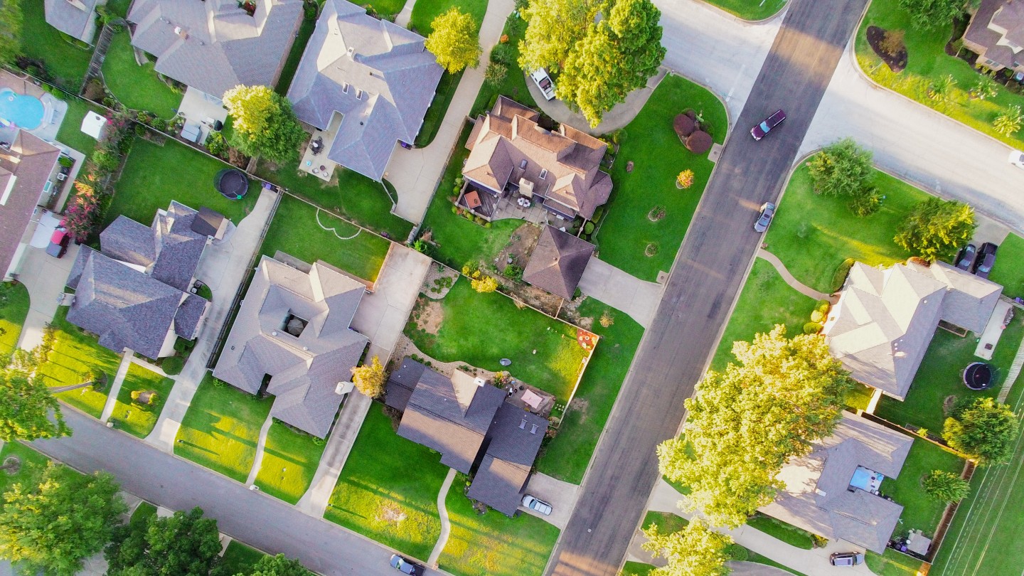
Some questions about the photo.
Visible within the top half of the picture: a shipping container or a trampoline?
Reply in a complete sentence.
What appears within the top half of the picture is a trampoline.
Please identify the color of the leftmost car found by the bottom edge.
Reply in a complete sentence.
The color of the leftmost car found by the bottom edge is blue.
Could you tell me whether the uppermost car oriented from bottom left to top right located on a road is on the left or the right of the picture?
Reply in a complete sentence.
The uppermost car oriented from bottom left to top right located on a road sits on the right side.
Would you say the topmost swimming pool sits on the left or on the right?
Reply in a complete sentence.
The topmost swimming pool is on the left side of the image.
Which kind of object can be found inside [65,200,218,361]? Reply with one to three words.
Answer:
house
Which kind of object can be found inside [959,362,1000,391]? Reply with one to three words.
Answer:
trampoline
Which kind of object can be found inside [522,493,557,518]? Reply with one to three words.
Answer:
vehicle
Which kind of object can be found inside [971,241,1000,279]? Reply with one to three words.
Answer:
truck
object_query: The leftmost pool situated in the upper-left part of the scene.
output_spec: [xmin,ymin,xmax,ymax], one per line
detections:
[0,86,52,131]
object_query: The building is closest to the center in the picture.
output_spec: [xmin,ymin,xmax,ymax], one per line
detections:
[522,224,596,301]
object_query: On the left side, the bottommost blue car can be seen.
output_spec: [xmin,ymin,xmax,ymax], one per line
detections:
[391,553,425,576]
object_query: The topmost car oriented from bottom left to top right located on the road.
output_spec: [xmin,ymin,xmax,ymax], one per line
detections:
[750,109,786,140]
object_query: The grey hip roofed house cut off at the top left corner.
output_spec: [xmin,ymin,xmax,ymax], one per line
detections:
[44,0,118,44]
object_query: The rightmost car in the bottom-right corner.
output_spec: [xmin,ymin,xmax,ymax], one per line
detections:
[828,550,862,567]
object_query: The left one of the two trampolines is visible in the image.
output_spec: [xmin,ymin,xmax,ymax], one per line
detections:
[214,167,248,198]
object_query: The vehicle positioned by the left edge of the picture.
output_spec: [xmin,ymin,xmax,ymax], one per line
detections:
[42,226,72,261]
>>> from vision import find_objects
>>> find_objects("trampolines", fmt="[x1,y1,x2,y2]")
[959,362,1000,391]
[214,167,248,198]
